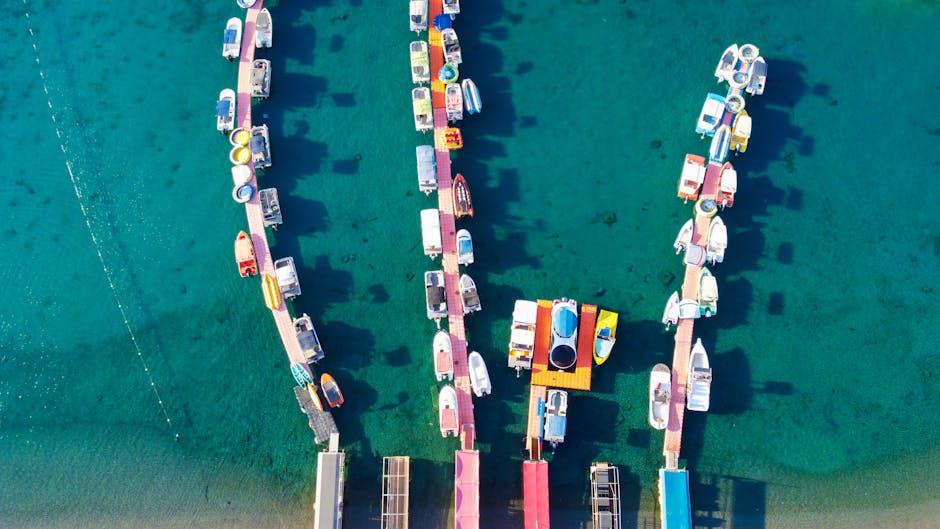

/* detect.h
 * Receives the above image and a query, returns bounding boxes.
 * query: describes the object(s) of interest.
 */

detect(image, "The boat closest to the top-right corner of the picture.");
[744,55,770,104]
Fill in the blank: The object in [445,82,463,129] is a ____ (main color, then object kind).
white boat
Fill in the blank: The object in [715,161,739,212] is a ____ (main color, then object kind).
white boat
